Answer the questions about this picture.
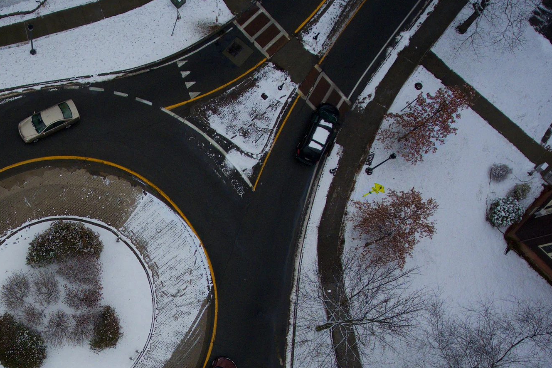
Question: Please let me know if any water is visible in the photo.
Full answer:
No, no water is visible.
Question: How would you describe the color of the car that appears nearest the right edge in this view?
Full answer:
The car that appears nearest the right edge looks black in the image.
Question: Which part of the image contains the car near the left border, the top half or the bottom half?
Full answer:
You can find the car near the left border in the top half.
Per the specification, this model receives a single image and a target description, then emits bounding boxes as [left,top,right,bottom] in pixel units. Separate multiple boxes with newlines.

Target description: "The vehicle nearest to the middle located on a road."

[294,100,340,166]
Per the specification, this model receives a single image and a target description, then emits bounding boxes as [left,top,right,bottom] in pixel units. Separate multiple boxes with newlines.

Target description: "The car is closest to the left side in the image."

[19,99,80,141]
